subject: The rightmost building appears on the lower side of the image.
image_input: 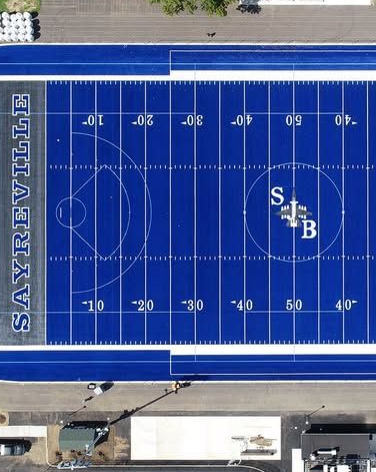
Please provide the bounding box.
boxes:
[303,430,369,472]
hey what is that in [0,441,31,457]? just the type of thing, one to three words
vehicle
